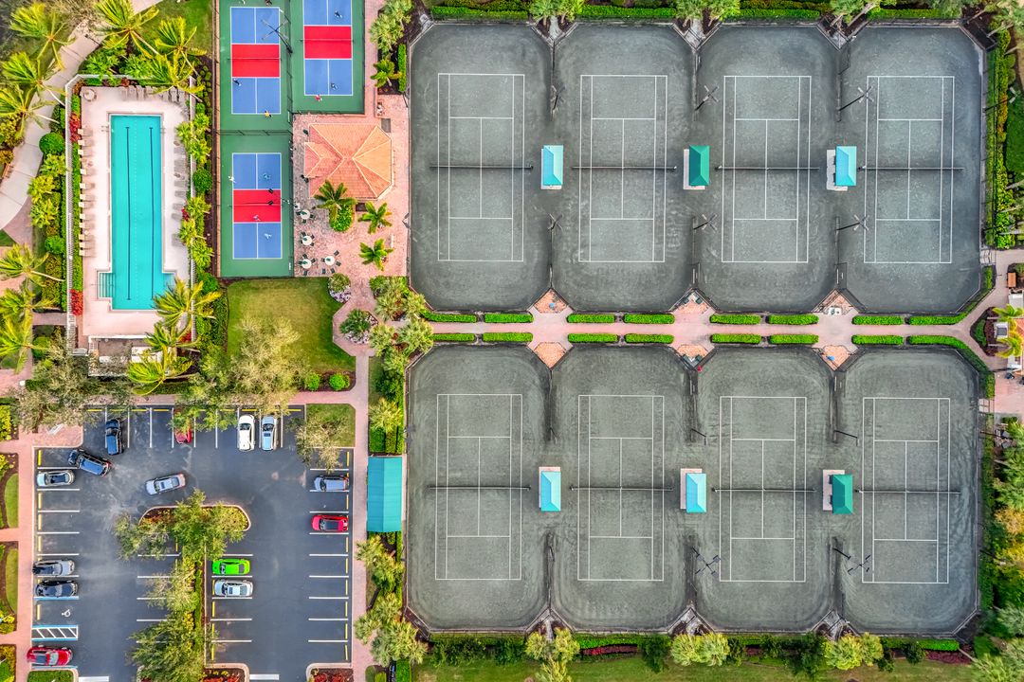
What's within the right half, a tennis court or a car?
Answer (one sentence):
There is a tennis court within the right half.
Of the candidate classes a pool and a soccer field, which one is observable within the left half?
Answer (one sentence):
Looking within the left half, you will find a pool.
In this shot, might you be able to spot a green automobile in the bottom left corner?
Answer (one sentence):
Yes, you'll find a green automobile in the bottom left corner.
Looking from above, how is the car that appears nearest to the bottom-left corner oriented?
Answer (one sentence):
I'd say the car that appears nearest to the bottom-left corner is aligned horizontally in the picture.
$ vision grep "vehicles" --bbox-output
[259,414,278,451]
[103,419,125,456]
[215,579,254,598]
[33,558,75,577]
[147,473,187,495]
[71,449,112,476]
[27,647,72,668]
[37,579,78,598]
[38,470,77,488]
[237,414,256,451]
[312,514,350,532]
[214,558,251,577]
[314,475,349,492]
